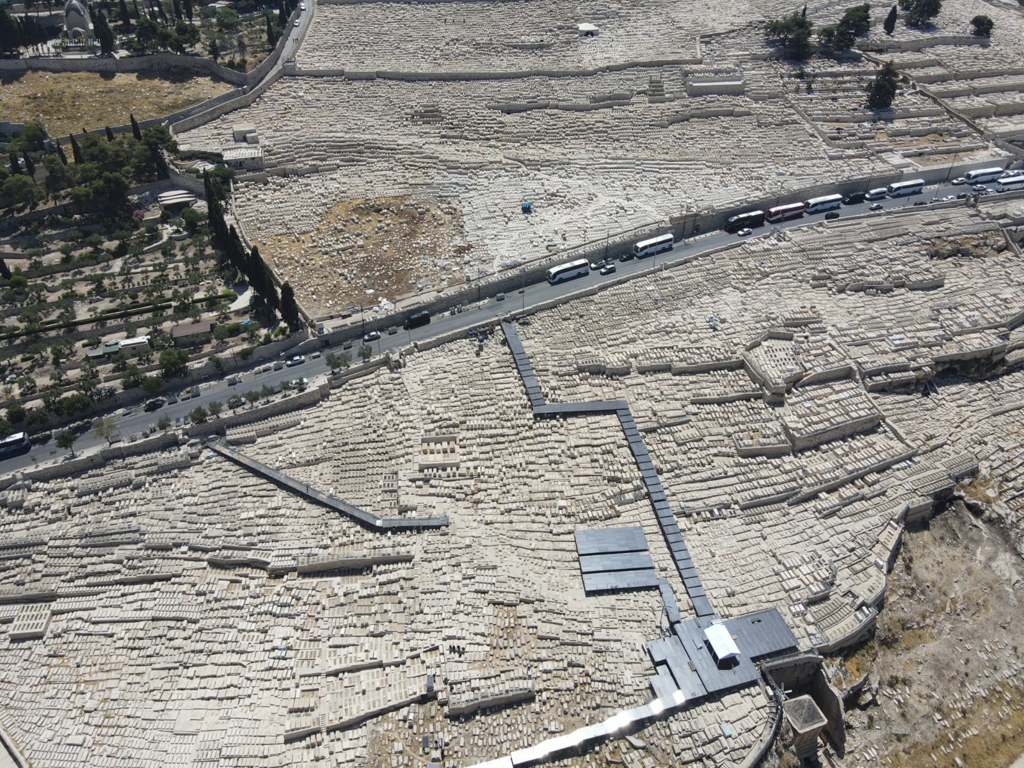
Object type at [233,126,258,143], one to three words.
house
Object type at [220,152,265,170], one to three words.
house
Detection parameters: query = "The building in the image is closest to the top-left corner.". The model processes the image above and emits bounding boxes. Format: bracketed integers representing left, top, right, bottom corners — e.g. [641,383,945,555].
[60,3,91,54]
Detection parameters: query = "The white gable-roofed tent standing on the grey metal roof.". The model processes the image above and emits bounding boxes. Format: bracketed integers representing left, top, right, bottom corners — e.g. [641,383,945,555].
[702,625,741,667]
